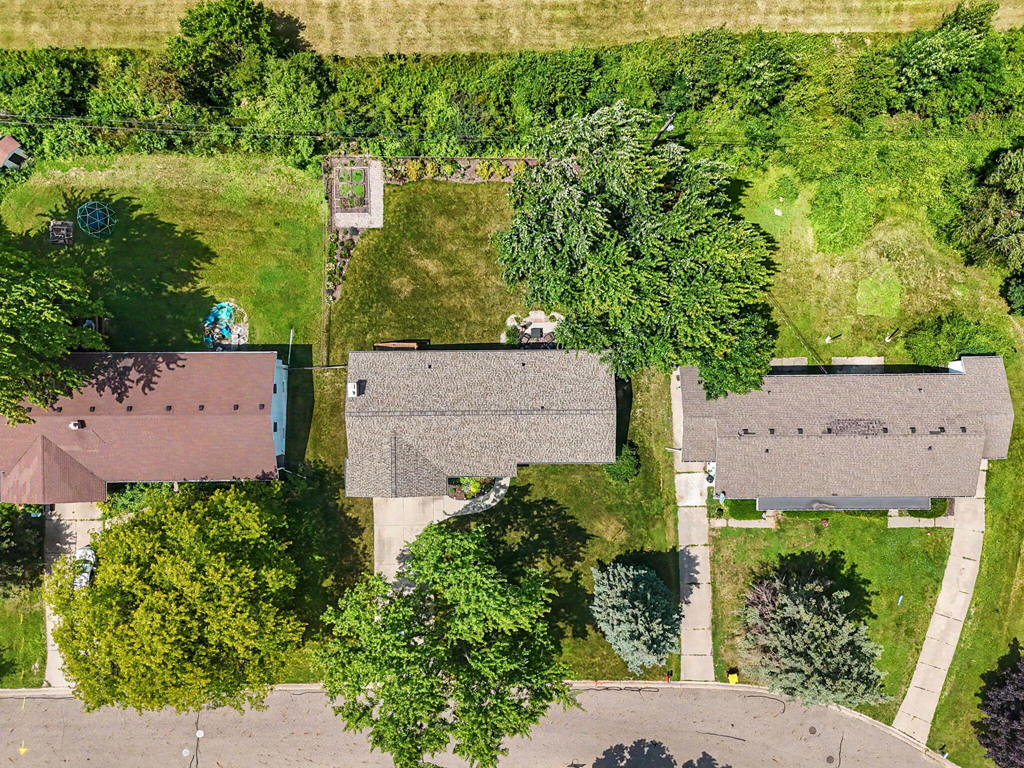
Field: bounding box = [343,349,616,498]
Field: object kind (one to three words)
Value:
house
